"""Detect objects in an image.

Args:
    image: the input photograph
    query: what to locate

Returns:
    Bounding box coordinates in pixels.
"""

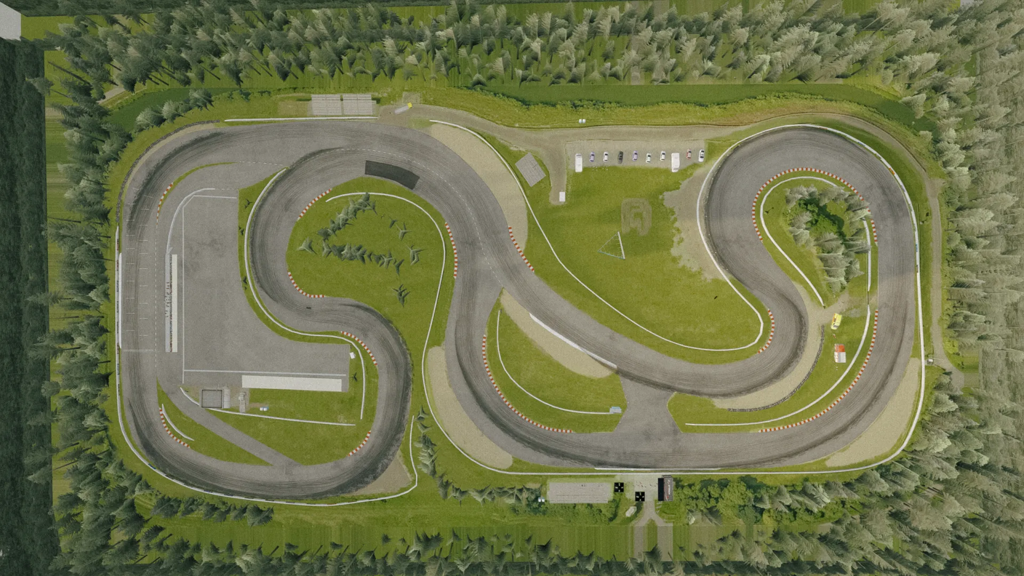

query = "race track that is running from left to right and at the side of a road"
[121,121,915,500]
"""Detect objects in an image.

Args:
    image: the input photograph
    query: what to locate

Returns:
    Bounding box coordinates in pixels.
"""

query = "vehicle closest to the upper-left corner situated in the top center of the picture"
[395,102,413,115]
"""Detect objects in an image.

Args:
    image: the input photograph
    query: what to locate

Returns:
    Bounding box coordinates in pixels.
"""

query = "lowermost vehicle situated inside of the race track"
[834,343,846,361]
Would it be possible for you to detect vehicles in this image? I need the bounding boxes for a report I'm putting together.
[646,153,651,163]
[632,151,638,161]
[660,151,666,161]
[575,154,582,173]
[603,152,608,162]
[831,314,842,328]
[686,150,691,159]
[834,343,846,361]
[670,152,680,173]
[395,102,413,115]
[699,150,704,161]
[618,152,623,163]
[590,152,595,162]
